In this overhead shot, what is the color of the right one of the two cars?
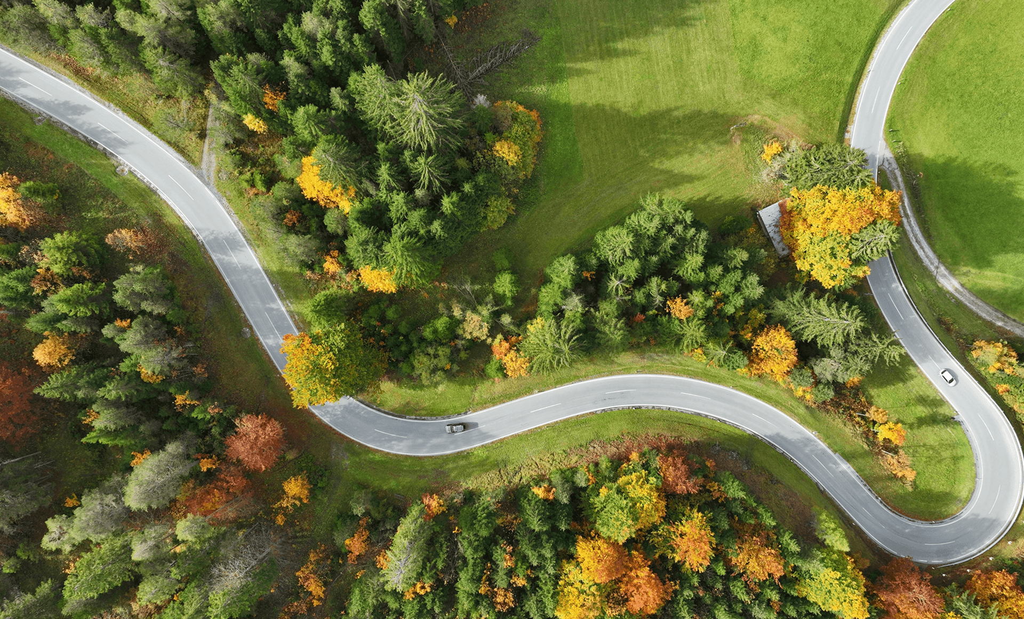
white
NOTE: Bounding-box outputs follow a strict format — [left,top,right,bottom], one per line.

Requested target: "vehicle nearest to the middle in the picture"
[446,422,466,434]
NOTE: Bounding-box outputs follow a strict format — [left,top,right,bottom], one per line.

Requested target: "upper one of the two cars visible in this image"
[937,367,957,387]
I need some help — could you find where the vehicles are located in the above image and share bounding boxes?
[937,367,957,387]
[446,422,466,434]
